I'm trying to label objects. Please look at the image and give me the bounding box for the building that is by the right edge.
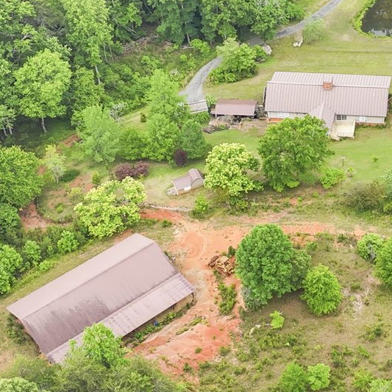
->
[264,71,390,144]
